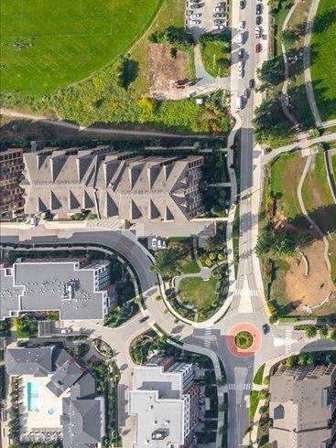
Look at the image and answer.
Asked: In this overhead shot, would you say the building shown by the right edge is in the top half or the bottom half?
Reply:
bottom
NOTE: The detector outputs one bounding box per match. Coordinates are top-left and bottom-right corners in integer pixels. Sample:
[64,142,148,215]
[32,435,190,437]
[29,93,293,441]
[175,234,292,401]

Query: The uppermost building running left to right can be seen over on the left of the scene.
[21,148,203,224]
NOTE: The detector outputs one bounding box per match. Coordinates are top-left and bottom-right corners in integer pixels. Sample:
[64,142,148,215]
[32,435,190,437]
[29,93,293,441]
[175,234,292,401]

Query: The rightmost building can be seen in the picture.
[269,360,336,448]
